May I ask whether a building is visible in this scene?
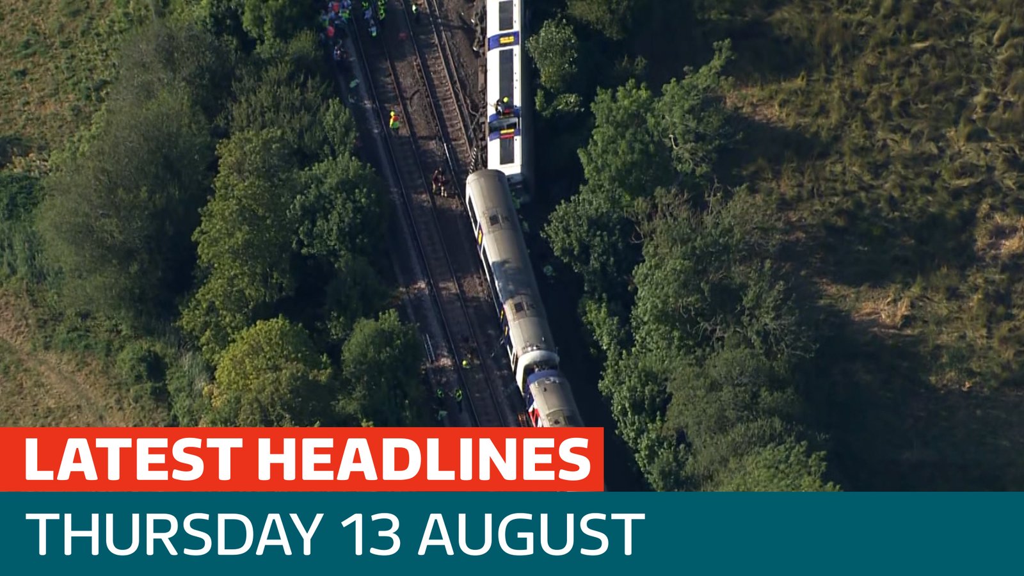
No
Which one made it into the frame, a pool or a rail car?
rail car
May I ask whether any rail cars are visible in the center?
Yes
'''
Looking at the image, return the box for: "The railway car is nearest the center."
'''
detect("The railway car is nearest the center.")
[461,169,561,390]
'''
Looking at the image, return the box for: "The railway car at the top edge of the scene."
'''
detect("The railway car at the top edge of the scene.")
[474,0,535,209]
